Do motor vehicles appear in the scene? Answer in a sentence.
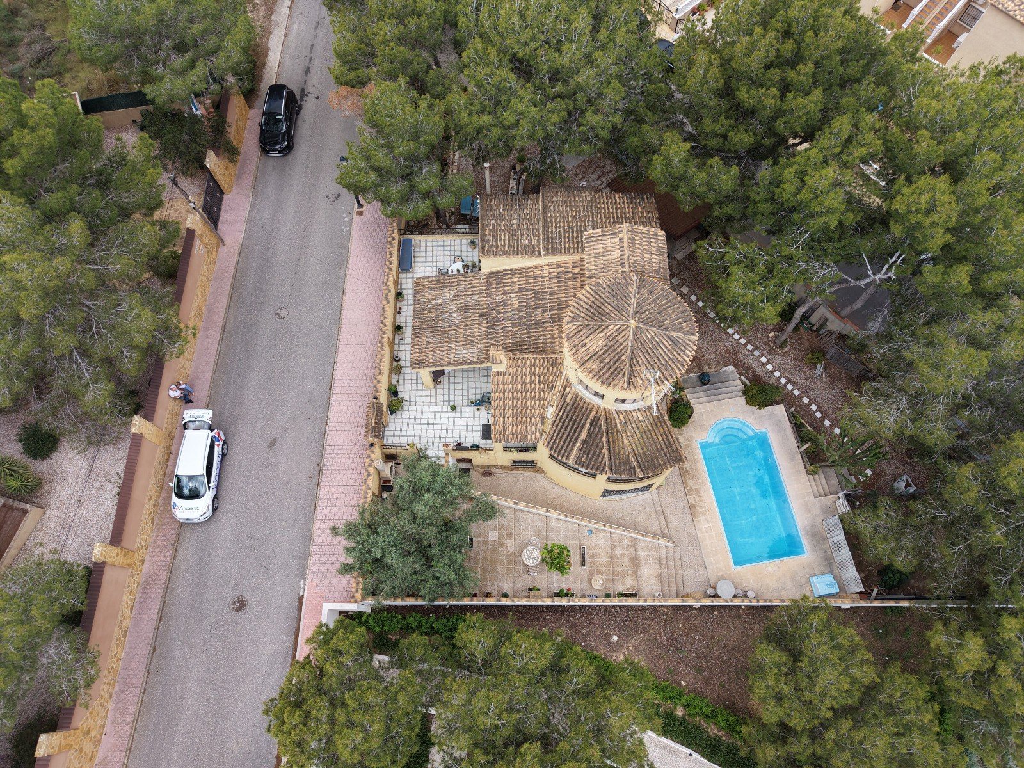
Yes, a motor vehicle appears in the view.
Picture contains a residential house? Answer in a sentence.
Yes, a residential house can be made out from above.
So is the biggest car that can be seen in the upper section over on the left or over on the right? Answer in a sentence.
You can find the biggest car that can be seen in the upper section on the left side of the picture.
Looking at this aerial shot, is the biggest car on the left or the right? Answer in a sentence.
You can find the biggest car on the left side of the picture.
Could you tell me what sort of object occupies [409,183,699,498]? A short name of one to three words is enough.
house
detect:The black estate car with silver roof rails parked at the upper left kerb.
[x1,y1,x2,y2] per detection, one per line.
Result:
[252,74,302,155]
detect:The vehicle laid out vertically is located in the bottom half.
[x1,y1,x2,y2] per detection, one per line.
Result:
[161,404,223,528]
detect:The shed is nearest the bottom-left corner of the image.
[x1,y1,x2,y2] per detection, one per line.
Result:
[0,496,53,579]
